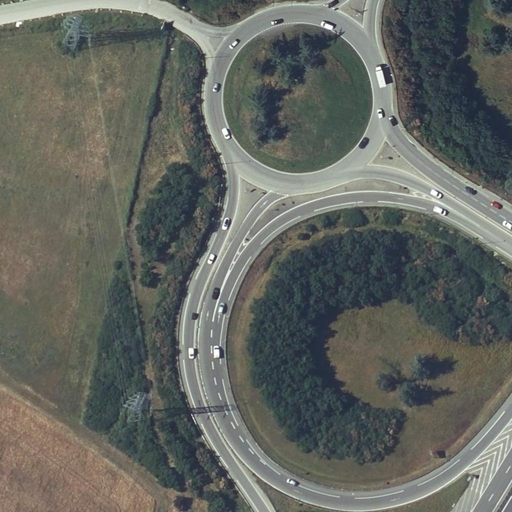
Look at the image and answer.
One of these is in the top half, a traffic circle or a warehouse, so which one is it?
traffic circle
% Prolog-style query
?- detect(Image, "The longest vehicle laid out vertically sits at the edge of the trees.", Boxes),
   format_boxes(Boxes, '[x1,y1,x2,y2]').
[376,67,388,89]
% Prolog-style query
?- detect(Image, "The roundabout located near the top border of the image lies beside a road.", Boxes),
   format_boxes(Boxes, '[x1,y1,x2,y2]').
[201,2,390,195]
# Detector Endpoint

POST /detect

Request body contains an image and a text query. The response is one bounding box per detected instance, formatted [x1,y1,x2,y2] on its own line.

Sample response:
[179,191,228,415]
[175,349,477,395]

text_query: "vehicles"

[218,303,224,315]
[358,138,369,150]
[207,254,216,266]
[490,201,502,210]
[214,346,220,360]
[222,218,230,231]
[388,115,398,128]
[501,220,512,230]
[376,67,388,89]
[212,288,219,301]
[212,82,219,94]
[191,311,198,323]
[327,0,339,10]
[285,478,298,487]
[378,108,384,120]
[432,206,446,217]
[429,190,442,200]
[464,186,478,196]
[229,39,240,50]
[320,22,334,32]
[188,348,194,360]
[222,128,230,140]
